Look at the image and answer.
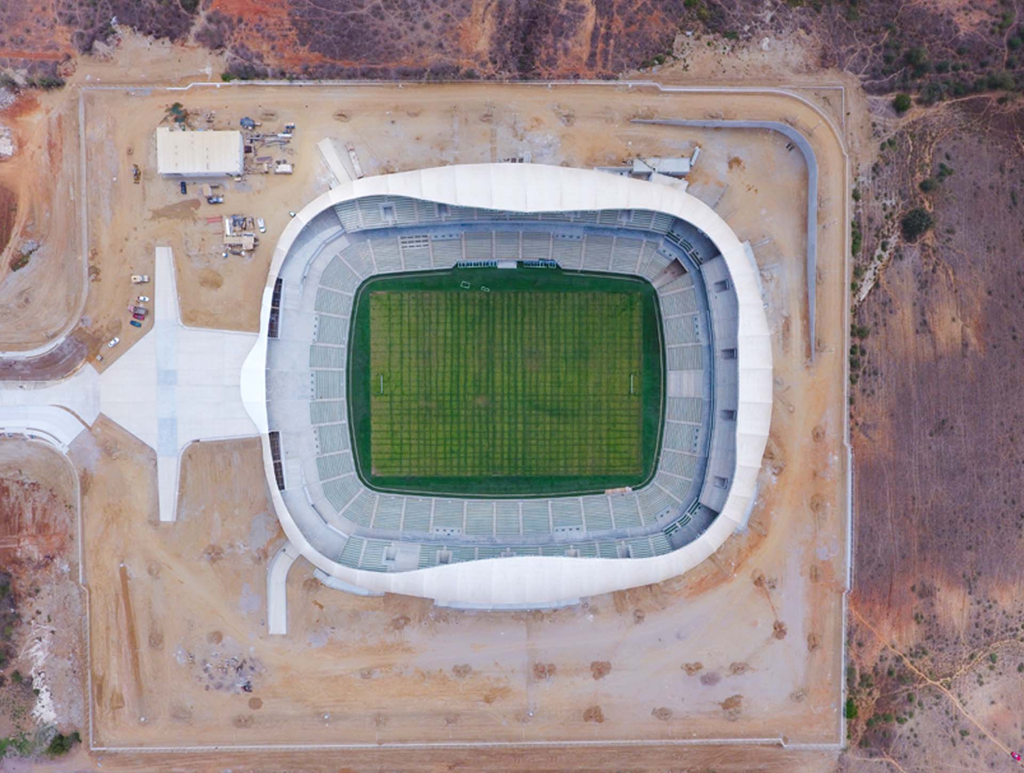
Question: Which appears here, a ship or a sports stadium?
sports stadium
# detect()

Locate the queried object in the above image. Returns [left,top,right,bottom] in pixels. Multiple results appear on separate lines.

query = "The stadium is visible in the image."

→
[240,163,773,611]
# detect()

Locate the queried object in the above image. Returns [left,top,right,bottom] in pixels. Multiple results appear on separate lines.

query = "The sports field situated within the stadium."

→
[346,263,667,502]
